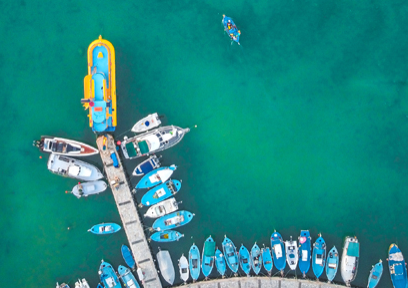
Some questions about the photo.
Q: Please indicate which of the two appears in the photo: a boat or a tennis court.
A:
boat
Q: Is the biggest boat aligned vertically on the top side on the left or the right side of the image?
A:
left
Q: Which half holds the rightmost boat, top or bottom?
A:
bottom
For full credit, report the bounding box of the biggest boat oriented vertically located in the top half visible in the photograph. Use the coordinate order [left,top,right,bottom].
[80,34,118,137]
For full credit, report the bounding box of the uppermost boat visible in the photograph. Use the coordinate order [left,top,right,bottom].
[222,12,240,45]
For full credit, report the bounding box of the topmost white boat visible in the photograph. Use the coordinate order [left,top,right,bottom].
[114,112,164,139]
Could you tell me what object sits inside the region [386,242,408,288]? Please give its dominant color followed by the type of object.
blue boat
